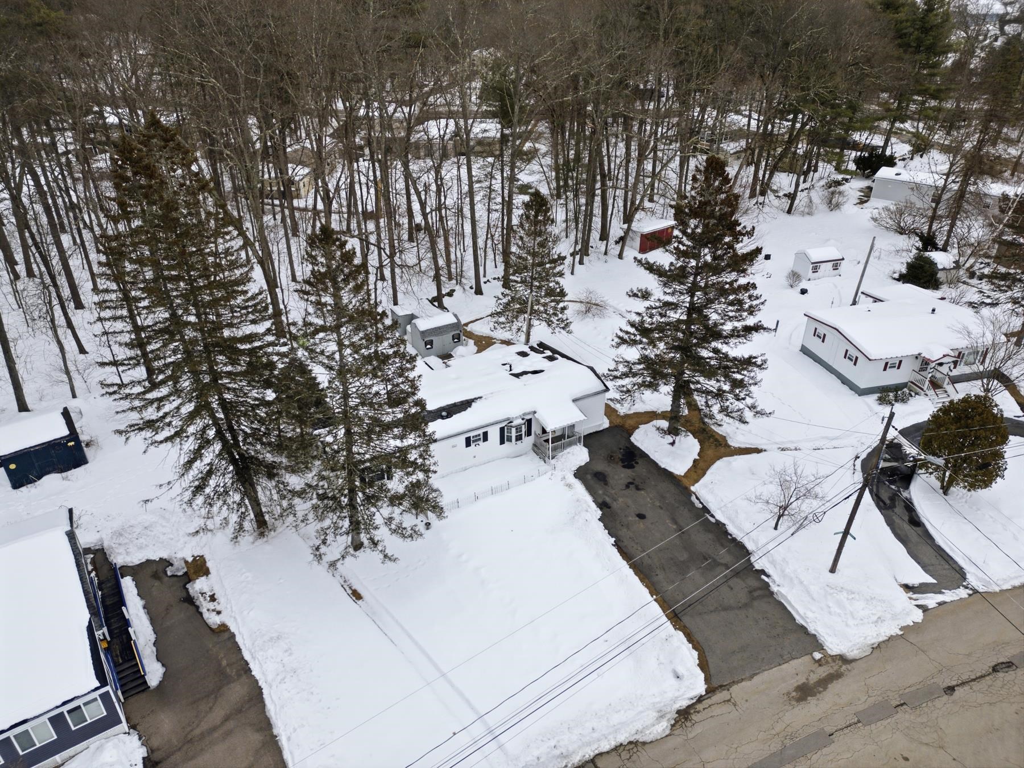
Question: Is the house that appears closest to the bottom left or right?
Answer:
left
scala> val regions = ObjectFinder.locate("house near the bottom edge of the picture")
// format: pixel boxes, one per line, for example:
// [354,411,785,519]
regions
[0,518,138,768]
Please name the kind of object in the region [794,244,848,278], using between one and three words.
shed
